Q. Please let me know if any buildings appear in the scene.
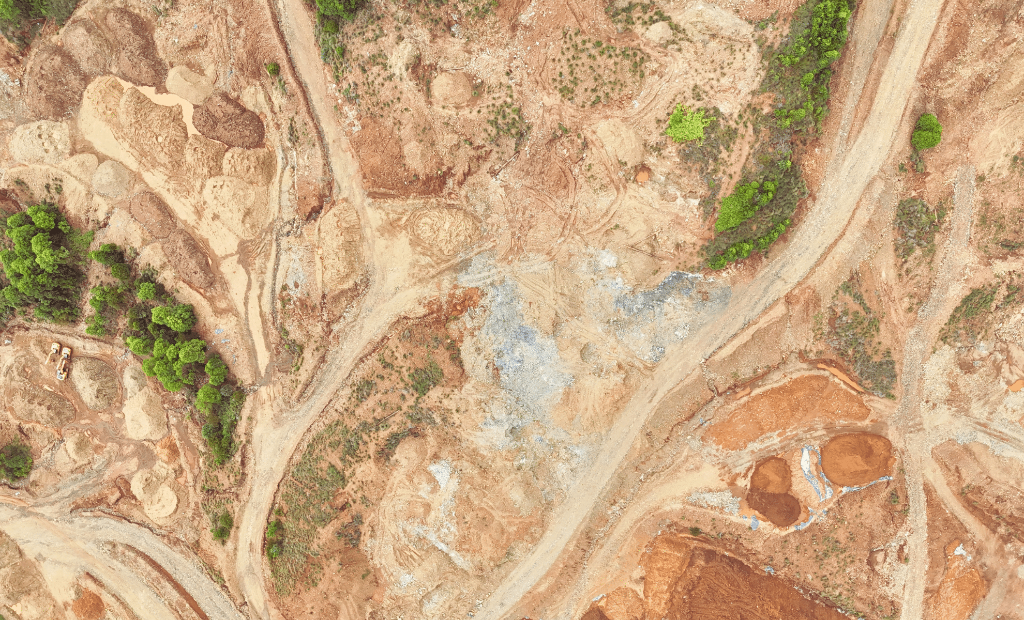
No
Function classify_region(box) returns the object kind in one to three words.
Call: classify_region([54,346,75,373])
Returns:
work vehicle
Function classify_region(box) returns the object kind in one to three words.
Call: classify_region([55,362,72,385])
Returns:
work vehicle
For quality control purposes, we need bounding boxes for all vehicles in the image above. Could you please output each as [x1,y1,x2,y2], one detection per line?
[55,362,72,385]
[54,346,75,373]
[44,342,64,368]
